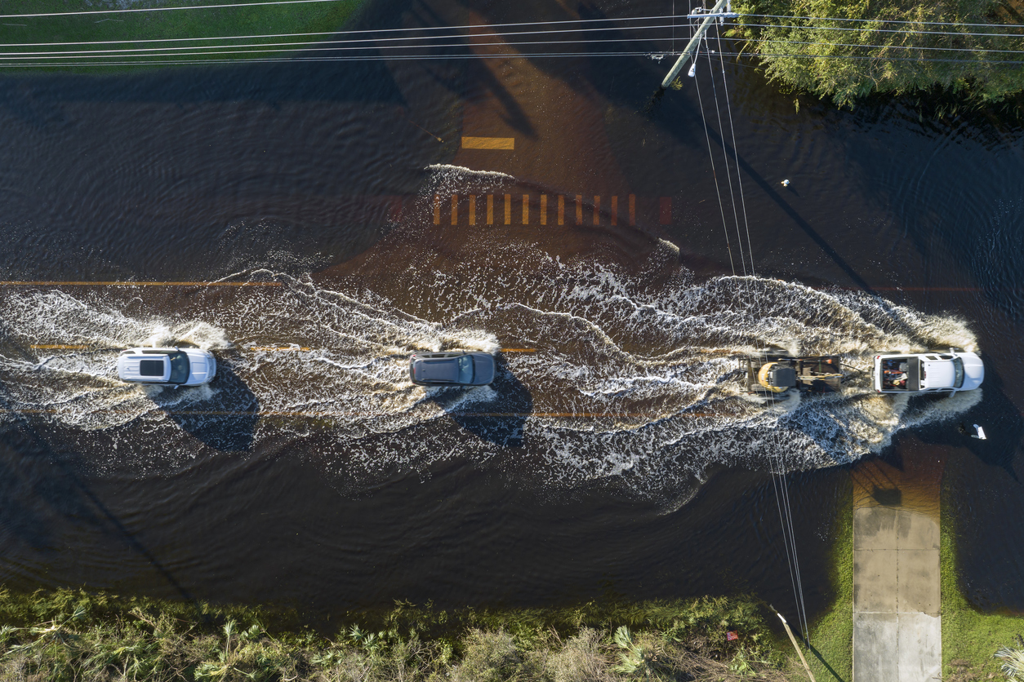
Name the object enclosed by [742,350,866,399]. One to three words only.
trailer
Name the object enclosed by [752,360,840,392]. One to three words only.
work vehicle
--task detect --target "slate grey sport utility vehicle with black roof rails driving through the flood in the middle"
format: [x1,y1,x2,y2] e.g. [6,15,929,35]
[409,347,496,391]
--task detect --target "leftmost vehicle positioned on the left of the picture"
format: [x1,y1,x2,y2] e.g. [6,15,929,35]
[119,345,218,391]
